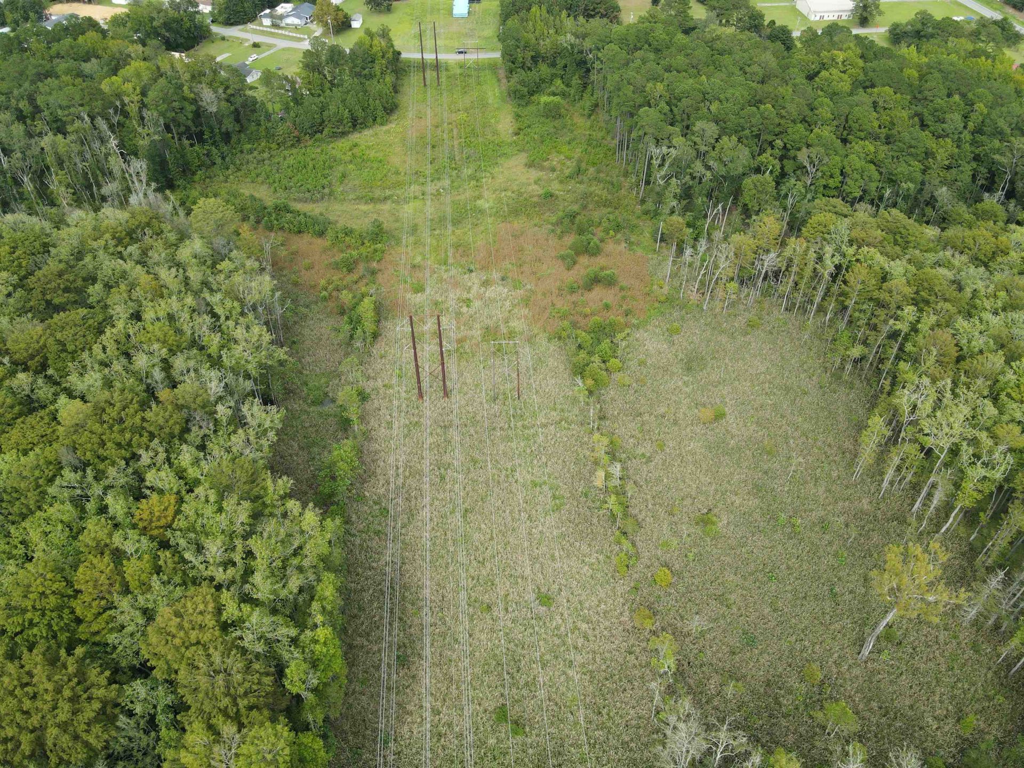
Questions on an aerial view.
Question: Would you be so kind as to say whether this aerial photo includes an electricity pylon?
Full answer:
Yes, there's an electricity pylon down there.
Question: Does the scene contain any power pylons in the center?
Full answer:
Yes, the scene does show a power pylon in the center.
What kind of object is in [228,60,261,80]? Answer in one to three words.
house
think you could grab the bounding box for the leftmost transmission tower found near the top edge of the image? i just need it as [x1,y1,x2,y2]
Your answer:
[416,24,443,86]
